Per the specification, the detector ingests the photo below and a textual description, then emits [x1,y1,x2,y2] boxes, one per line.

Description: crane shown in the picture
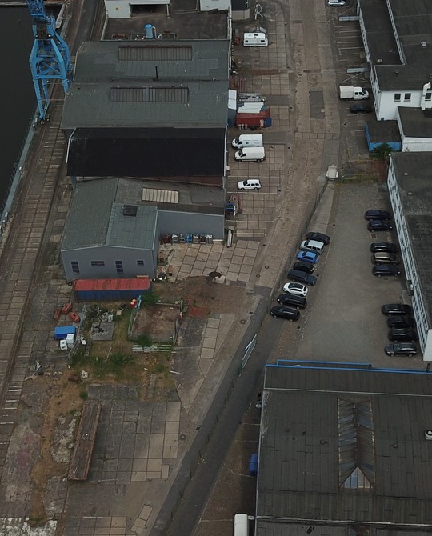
[27,0,74,120]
